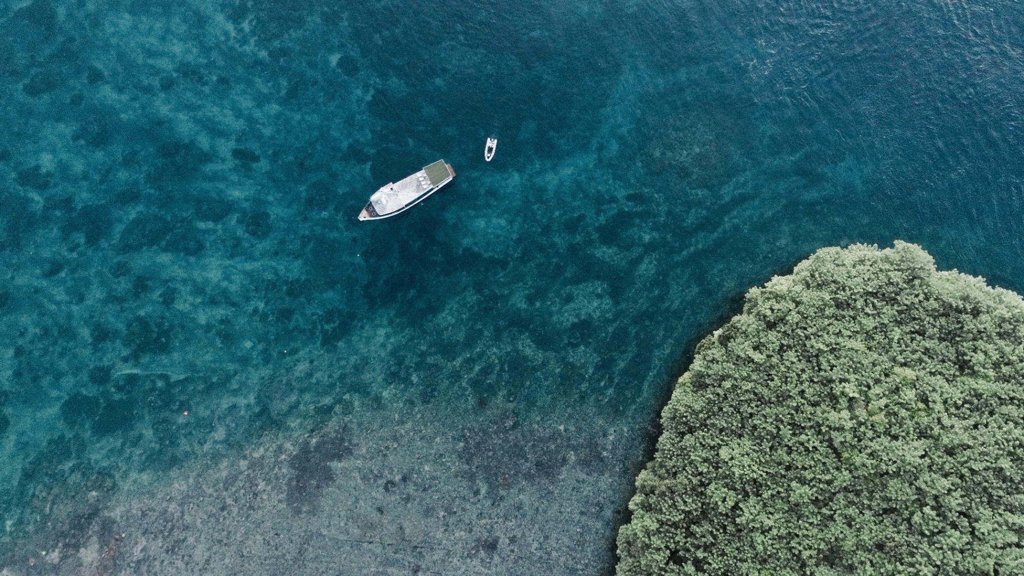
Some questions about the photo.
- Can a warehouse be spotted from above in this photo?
No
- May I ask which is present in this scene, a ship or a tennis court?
ship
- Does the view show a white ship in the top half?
Yes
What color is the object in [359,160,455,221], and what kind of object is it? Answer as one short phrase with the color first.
white ship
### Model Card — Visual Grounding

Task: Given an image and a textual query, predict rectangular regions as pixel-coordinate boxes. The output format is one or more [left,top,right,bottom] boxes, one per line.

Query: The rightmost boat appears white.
[485,138,497,161]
